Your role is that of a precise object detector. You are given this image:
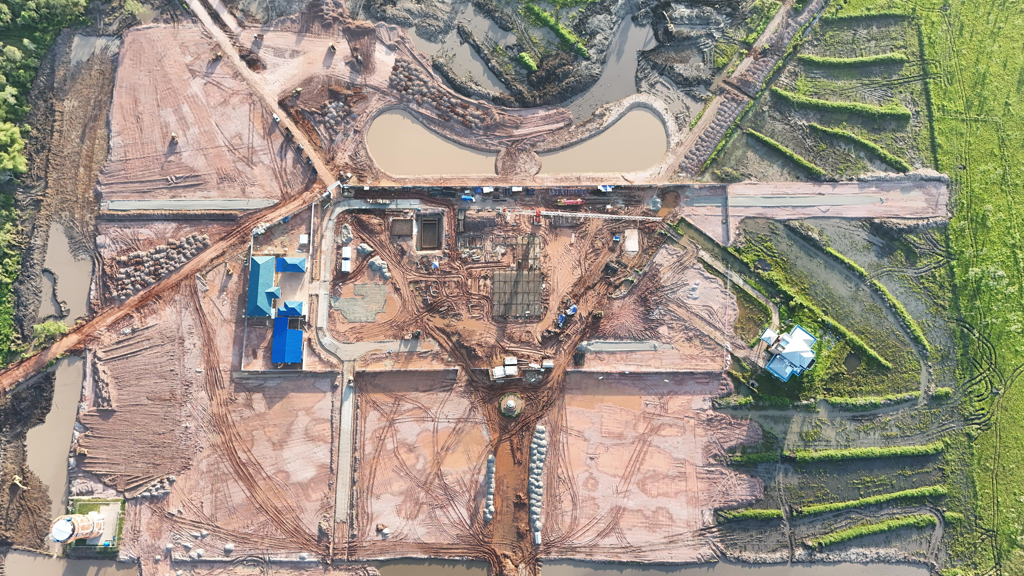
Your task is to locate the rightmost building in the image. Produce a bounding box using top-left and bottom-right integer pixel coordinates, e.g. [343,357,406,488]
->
[758,324,818,382]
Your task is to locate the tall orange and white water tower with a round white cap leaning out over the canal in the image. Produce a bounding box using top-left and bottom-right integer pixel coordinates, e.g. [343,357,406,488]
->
[51,510,109,546]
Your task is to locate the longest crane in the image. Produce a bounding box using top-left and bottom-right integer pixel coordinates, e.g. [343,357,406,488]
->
[499,207,662,228]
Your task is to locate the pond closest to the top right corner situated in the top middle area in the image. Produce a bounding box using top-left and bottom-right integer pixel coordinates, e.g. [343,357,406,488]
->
[539,108,666,174]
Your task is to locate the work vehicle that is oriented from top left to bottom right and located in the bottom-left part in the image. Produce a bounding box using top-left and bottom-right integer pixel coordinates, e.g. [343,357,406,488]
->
[7,472,27,490]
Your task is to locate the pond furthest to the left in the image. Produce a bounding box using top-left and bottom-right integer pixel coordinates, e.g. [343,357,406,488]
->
[367,110,496,175]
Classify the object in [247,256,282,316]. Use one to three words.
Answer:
building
